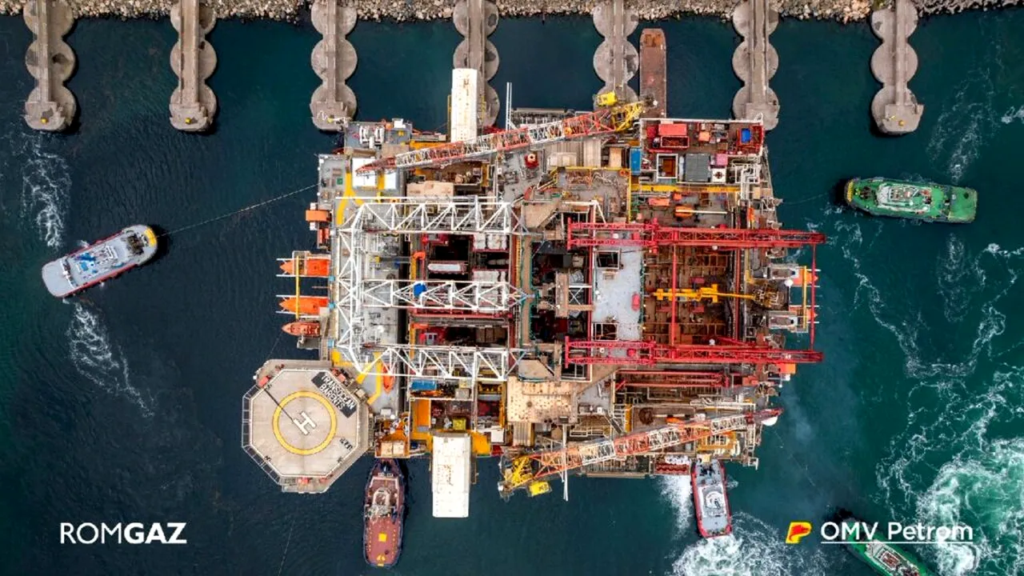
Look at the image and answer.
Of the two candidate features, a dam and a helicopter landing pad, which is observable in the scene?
helicopter landing pad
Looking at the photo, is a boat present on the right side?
Yes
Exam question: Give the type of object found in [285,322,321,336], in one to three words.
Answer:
boat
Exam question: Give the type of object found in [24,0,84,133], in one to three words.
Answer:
pier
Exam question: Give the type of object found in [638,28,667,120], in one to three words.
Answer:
ship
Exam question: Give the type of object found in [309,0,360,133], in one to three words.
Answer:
pier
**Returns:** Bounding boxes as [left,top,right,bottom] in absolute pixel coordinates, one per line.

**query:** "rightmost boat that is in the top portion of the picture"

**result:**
[846,175,979,228]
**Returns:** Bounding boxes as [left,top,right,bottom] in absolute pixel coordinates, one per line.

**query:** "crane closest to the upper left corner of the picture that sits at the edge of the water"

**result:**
[357,88,650,174]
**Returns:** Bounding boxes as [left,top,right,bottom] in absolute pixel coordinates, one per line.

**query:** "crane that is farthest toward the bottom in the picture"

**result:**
[497,407,784,499]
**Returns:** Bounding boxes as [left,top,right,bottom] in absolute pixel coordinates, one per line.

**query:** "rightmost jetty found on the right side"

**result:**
[864,0,924,137]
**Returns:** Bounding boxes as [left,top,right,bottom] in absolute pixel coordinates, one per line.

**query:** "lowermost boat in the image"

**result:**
[843,516,948,576]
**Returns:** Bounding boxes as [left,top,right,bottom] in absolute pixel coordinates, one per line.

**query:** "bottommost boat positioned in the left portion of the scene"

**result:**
[363,458,408,568]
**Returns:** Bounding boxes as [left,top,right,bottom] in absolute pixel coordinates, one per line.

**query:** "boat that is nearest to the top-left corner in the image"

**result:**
[41,227,158,300]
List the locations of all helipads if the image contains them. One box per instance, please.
[242,359,372,491]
